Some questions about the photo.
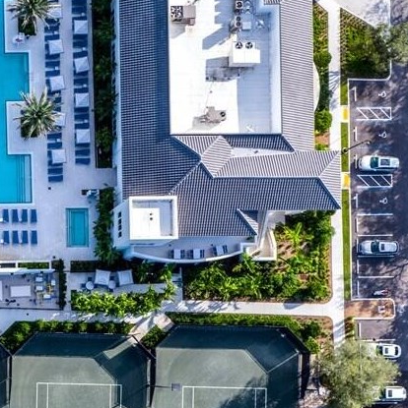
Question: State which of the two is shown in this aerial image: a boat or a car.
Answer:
car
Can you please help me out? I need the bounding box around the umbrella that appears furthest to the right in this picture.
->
[115,270,132,286]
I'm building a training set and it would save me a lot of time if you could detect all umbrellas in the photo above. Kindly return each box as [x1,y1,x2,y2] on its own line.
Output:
[74,57,91,75]
[51,149,66,165]
[115,270,132,286]
[75,94,90,109]
[47,39,64,55]
[73,20,89,36]
[76,129,91,144]
[48,76,65,92]
[94,269,110,286]
[47,4,62,19]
